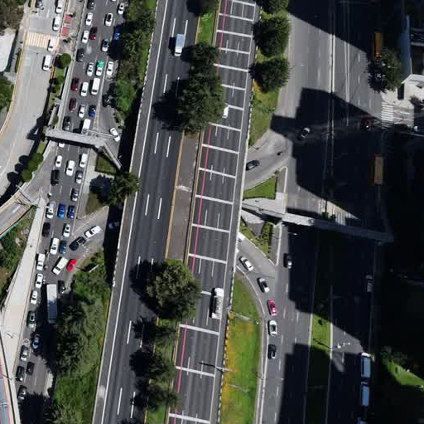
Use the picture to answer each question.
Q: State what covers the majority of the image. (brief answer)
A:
paved ground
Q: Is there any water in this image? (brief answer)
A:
No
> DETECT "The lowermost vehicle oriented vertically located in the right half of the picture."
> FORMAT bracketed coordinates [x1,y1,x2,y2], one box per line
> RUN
[359,379,372,407]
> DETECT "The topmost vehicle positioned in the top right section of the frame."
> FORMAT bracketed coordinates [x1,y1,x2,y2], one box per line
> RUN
[372,31,385,59]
